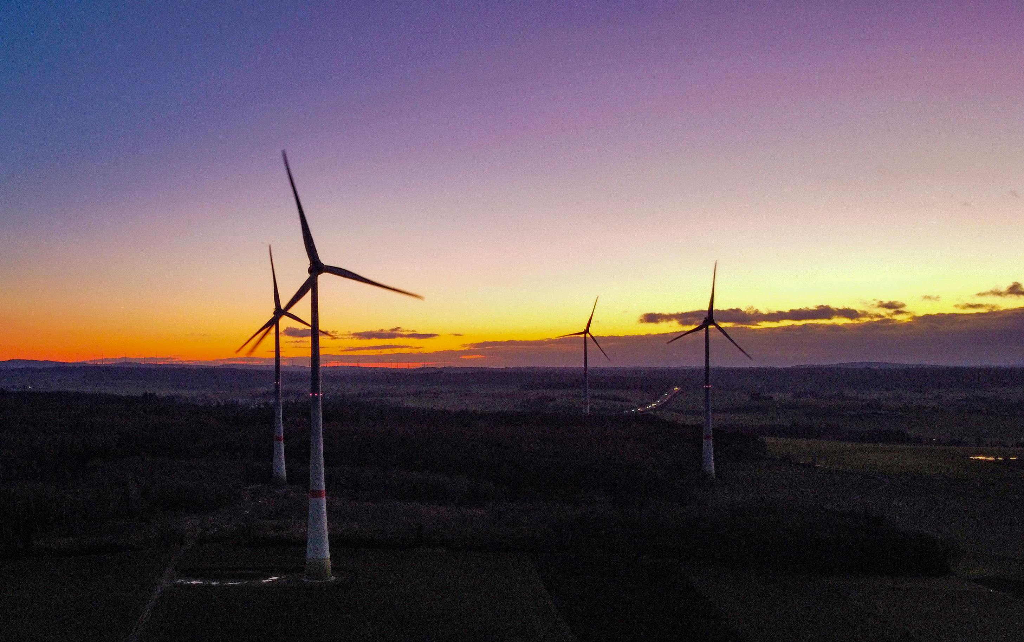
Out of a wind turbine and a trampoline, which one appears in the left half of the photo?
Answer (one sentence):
Looking in the left half of the photo, you will find a wind turbine.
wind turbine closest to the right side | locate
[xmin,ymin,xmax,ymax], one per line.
[664,261,753,479]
